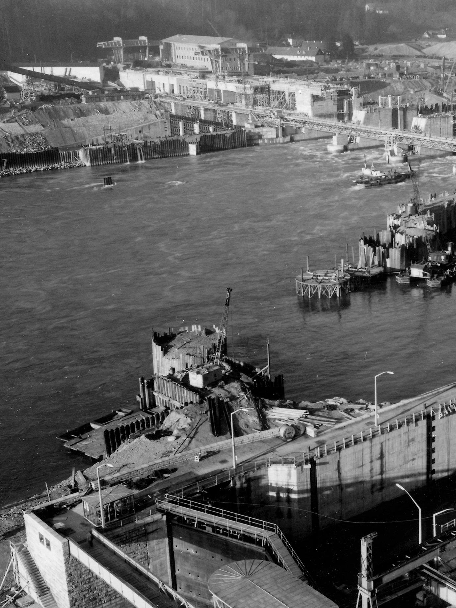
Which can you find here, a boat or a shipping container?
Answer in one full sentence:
There is a boat in the scene.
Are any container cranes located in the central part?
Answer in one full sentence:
No, there is no container crane in the central part.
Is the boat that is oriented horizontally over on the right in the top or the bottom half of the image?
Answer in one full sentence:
The boat that is oriented horizontally over on the right is in the top half of the image.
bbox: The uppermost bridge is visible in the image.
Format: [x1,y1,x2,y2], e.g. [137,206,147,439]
[172,97,456,154]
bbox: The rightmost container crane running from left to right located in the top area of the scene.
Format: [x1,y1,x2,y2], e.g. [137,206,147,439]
[188,41,259,74]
